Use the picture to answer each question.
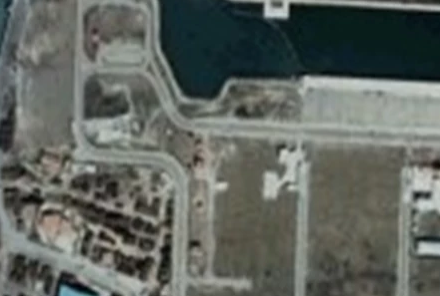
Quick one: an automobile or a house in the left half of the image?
house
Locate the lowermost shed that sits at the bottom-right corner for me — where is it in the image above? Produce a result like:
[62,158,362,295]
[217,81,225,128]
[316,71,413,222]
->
[418,241,440,255]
